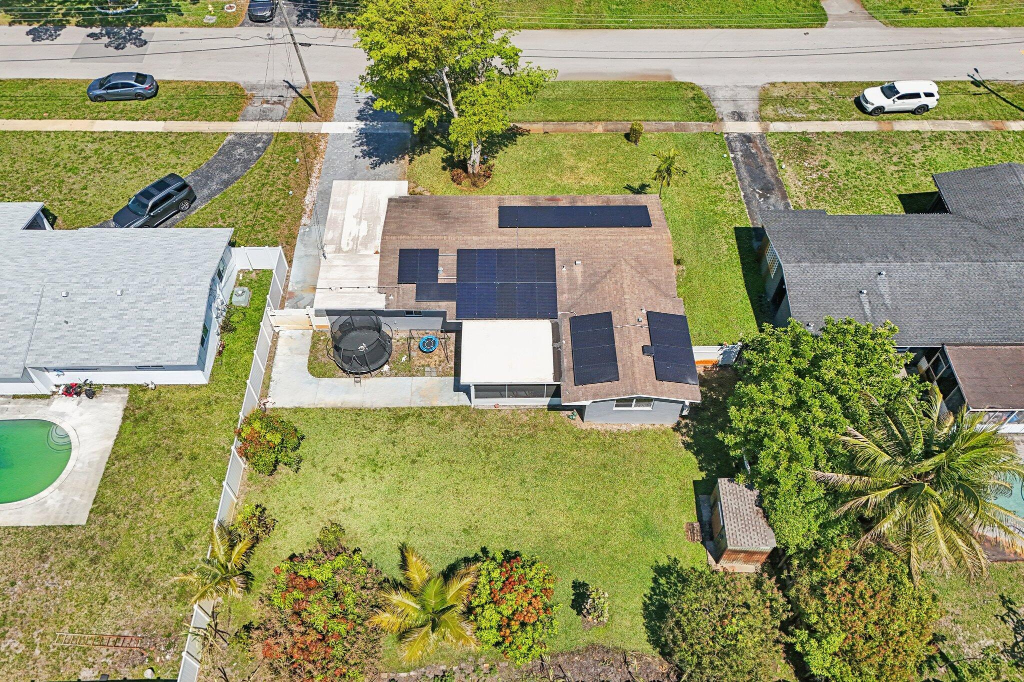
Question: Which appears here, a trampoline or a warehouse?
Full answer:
Of the two, only a trampoline appears.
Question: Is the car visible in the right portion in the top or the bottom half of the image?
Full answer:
The top half of the photo is where the car visible in the right portion is.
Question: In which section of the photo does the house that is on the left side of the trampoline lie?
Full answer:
You can find the house that is on the left side of the trampoline in the left area of the picture.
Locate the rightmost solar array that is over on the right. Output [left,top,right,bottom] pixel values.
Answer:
[646,312,699,385]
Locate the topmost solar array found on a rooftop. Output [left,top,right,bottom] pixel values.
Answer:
[497,206,653,227]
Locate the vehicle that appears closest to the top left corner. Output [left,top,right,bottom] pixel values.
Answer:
[84,69,159,102]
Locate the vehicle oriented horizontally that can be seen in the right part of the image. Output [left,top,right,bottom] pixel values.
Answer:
[855,77,941,116]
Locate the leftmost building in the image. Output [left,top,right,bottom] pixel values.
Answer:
[0,201,246,393]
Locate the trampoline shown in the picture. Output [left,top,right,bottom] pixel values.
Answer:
[323,312,399,385]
